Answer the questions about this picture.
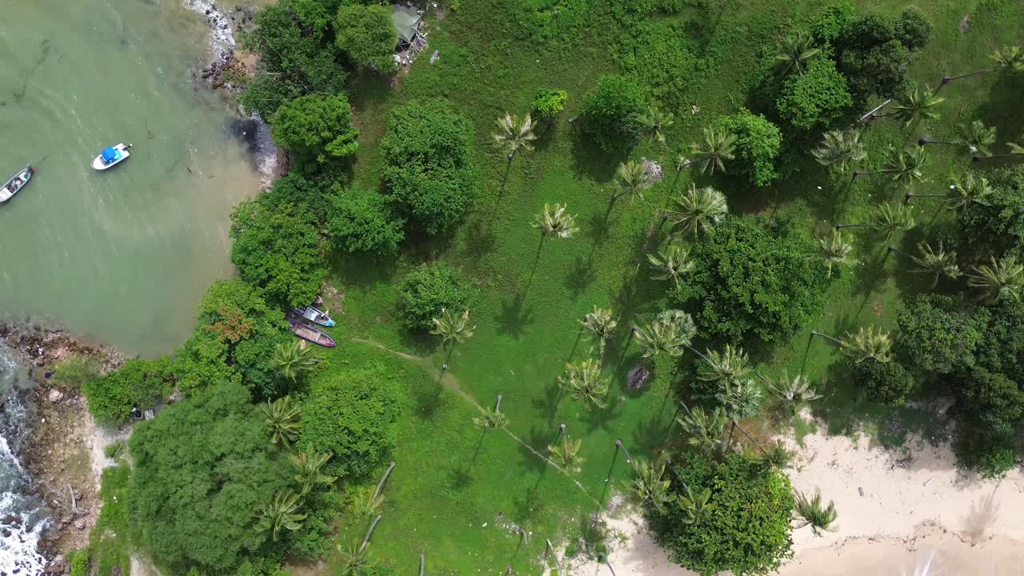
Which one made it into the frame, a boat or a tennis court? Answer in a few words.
boat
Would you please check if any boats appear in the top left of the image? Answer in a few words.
Yes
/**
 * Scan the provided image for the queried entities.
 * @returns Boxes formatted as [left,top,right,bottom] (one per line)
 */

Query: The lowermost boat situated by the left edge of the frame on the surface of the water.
[0,166,35,200]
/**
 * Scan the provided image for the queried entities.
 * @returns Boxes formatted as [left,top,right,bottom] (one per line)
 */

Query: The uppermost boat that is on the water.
[91,142,133,168]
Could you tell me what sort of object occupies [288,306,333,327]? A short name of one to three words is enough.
boat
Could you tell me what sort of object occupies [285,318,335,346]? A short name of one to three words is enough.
boat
